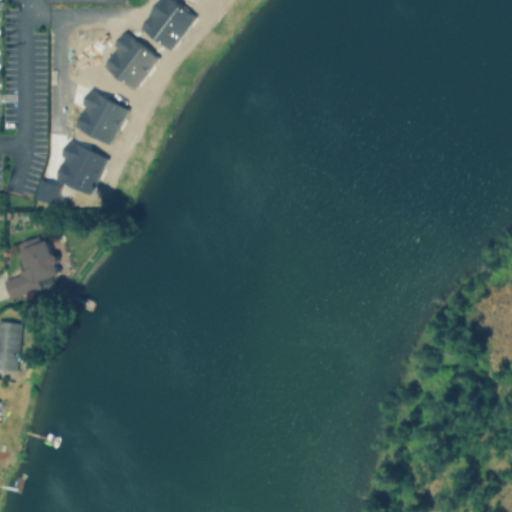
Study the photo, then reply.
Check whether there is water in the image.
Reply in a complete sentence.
Yes, water shows up in the scene.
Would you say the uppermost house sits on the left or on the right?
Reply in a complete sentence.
The uppermost house sits on the left side.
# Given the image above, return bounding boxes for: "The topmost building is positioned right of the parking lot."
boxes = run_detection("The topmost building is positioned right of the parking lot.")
[140,0,193,50]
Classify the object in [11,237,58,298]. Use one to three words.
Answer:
house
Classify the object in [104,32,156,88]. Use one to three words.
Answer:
house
